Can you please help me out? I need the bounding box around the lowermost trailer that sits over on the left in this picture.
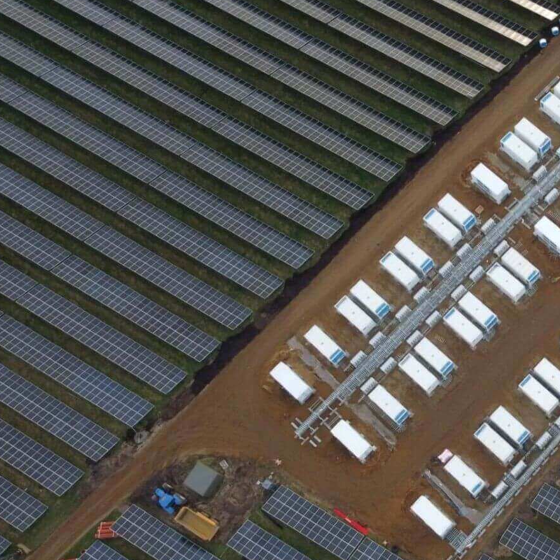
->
[173,505,220,541]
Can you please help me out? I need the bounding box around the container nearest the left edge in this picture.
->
[271,363,316,406]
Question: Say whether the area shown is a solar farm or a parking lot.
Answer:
solar farm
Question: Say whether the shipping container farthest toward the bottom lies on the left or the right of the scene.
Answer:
right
